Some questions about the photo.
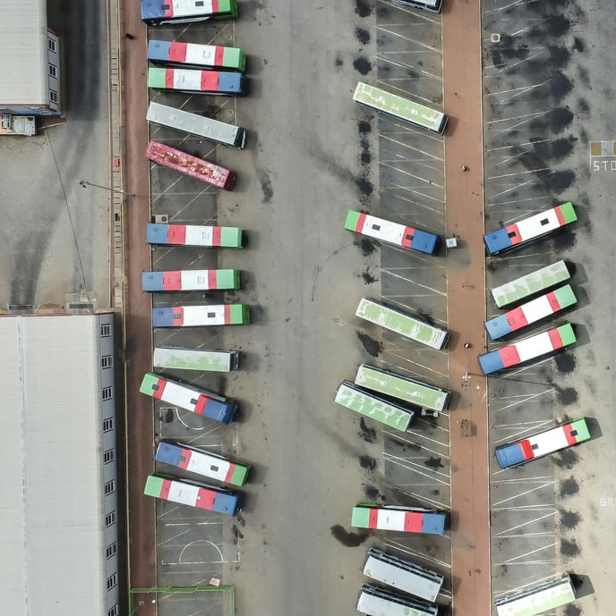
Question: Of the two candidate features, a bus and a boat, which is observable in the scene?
bus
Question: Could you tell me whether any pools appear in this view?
No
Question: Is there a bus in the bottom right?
Yes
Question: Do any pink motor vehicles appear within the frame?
Yes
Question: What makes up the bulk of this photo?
paved ground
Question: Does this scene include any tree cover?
No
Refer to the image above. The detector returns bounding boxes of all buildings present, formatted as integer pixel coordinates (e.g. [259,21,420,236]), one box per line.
[0,316,127,616]
[0,0,66,118]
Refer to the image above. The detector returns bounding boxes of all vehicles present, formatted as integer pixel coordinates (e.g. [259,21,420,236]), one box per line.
[352,502,448,534]
[483,284,578,342]
[490,260,571,310]
[476,322,577,377]
[344,210,441,257]
[354,295,449,348]
[154,346,239,374]
[482,201,578,257]
[355,362,449,409]
[154,304,252,328]
[148,39,249,73]
[156,437,257,485]
[144,269,245,294]
[147,221,250,248]
[141,0,239,27]
[494,573,575,616]
[148,68,250,98]
[146,102,249,150]
[494,416,591,470]
[334,381,416,430]
[140,370,242,425]
[356,585,438,616]
[145,140,238,192]
[353,81,448,135]
[145,470,246,516]
[363,551,442,600]
[382,0,442,15]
